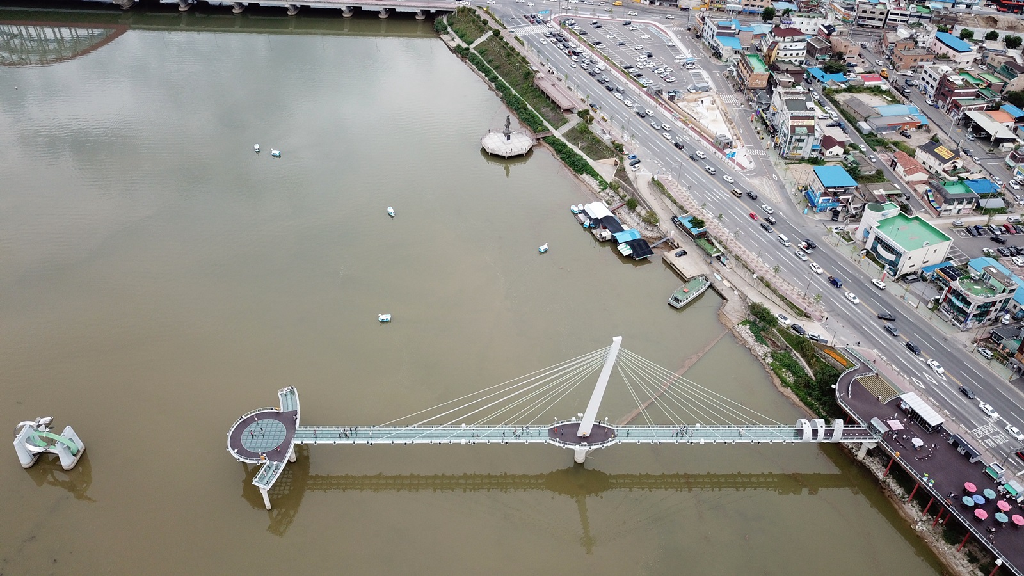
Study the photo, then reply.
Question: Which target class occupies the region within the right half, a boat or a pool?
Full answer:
What appears within the right half is a boat.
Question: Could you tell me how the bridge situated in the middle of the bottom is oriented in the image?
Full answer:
The bridge situated in the middle of the bottom is oriented from side to side.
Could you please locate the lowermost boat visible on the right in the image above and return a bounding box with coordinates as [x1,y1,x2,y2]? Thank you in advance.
[663,273,707,305]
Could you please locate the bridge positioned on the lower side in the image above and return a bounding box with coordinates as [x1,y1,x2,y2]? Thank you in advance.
[225,334,880,512]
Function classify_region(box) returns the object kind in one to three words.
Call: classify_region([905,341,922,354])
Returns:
vehicle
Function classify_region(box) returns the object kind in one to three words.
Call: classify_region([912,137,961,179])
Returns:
house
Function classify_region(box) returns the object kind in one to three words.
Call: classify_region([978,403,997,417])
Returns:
car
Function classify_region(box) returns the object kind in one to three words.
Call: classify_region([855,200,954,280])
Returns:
building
